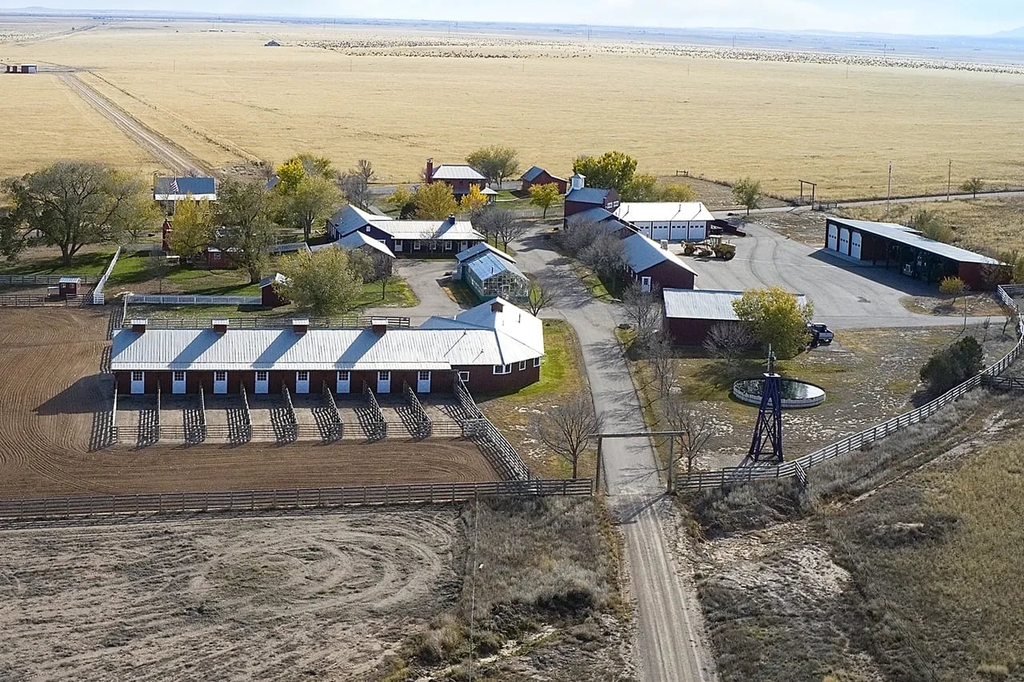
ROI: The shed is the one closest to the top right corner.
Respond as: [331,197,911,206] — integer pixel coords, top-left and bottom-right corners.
[813,220,1013,292]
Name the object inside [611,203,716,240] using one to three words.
building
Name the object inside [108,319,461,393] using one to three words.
barn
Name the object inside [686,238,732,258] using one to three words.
work vehicle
